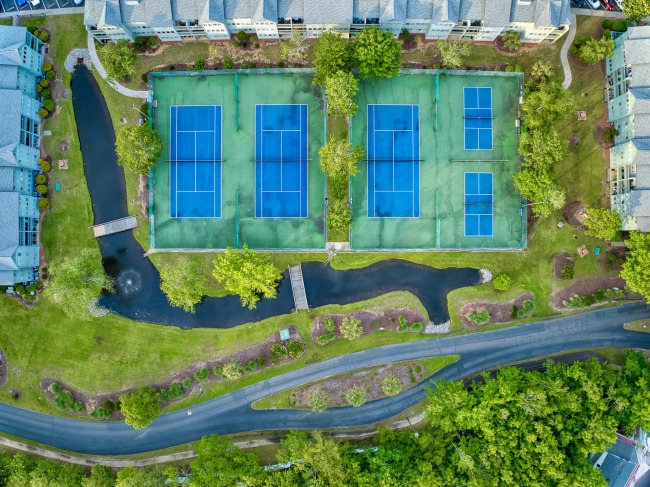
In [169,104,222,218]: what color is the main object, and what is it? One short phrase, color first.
blue tennis court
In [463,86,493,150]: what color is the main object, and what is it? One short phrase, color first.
blue sports court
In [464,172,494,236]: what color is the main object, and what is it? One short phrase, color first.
blue sports court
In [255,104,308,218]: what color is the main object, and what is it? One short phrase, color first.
blue tennis court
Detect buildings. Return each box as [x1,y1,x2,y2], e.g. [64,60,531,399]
[0,21,41,288]
[609,22,650,234]
[80,0,577,40]
[582,436,649,487]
